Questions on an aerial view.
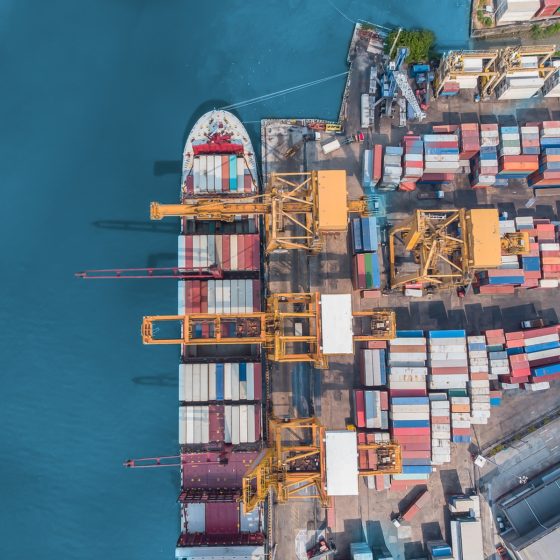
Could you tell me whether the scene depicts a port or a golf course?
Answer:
port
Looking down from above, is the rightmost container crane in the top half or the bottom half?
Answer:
top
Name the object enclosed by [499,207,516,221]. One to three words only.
vehicle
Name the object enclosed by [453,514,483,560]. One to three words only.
building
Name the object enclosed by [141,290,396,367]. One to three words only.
container crane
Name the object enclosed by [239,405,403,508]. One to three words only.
container crane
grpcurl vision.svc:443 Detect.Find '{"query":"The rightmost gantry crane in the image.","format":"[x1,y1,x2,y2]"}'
[488,44,560,101]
